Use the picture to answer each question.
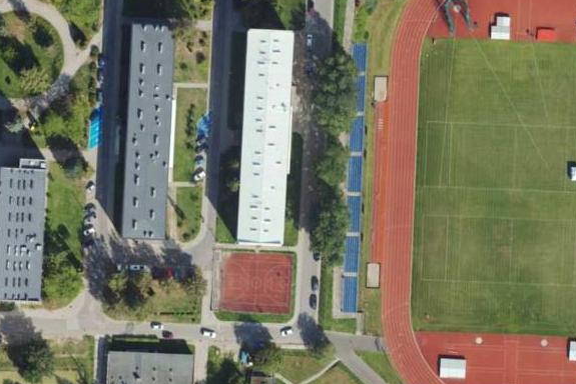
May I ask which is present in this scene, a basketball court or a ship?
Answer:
basketball court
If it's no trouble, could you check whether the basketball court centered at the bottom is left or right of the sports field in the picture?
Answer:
to its left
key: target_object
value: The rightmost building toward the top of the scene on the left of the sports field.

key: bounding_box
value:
[236,29,294,244]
